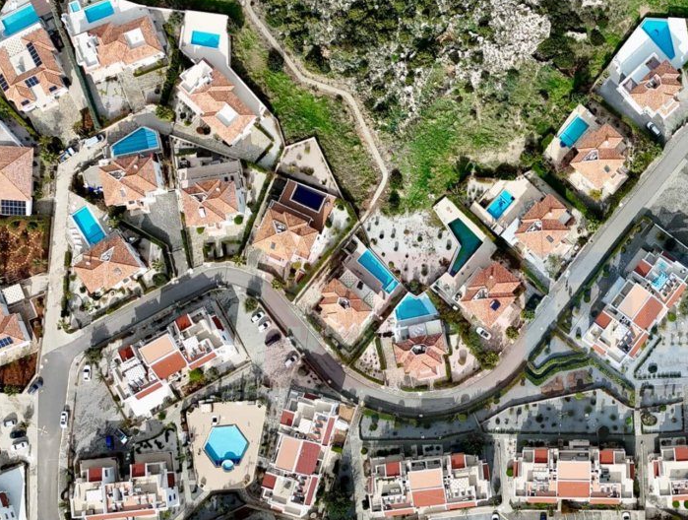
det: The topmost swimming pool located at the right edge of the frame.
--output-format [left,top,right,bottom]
[613,17,688,75]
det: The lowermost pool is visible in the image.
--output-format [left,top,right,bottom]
[187,400,266,491]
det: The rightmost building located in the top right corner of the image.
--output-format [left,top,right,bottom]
[618,48,686,123]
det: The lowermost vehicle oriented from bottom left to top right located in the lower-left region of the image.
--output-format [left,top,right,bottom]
[28,377,44,394]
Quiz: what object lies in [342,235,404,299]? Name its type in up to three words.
swimming pool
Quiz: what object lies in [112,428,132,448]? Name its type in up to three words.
vehicle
